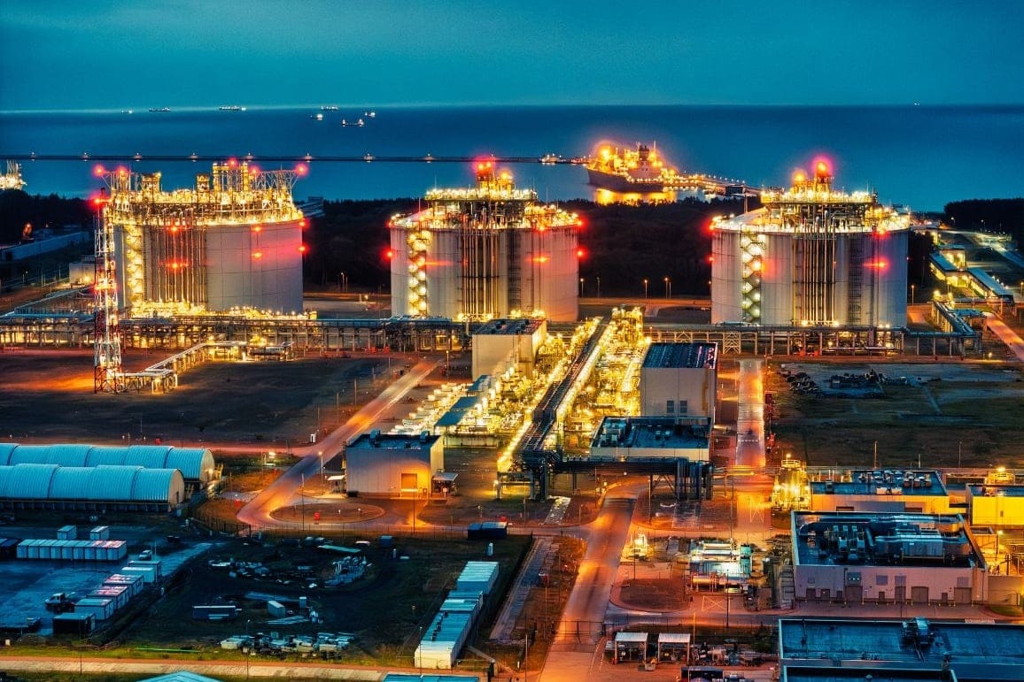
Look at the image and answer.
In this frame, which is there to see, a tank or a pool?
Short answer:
tank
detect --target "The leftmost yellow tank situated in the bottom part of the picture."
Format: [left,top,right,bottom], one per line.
[772,464,811,512]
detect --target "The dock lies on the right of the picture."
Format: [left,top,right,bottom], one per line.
[679,172,890,204]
